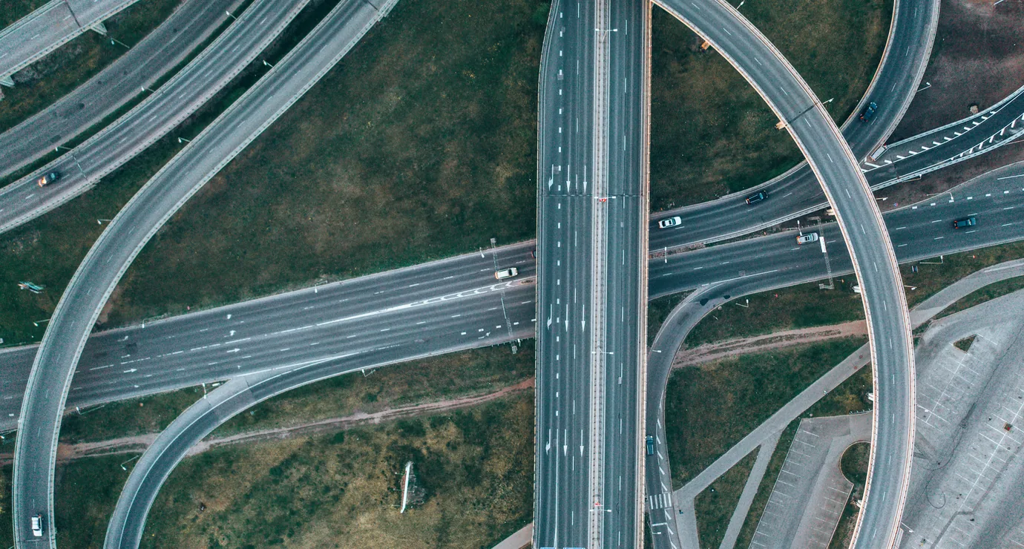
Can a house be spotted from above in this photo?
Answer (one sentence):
No, no house can be seen from above.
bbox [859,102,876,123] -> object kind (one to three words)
car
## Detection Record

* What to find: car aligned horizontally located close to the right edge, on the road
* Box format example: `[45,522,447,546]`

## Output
[952,217,976,229]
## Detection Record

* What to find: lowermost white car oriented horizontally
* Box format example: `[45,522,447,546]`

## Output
[494,267,519,279]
